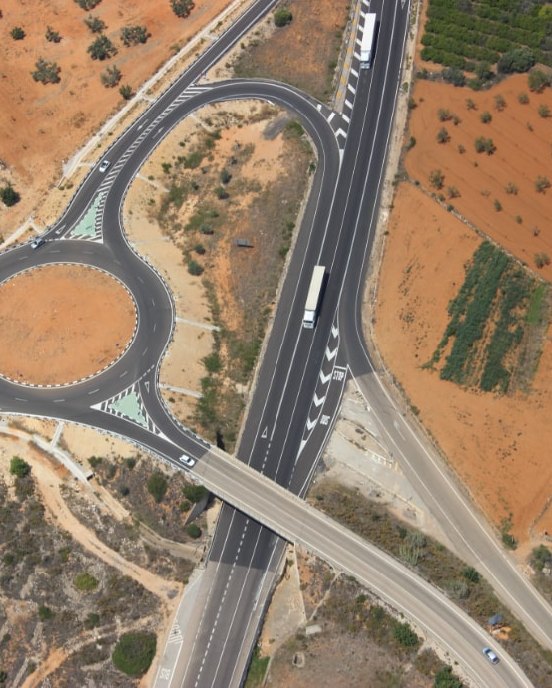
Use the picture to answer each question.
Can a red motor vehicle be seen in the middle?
No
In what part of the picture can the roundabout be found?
left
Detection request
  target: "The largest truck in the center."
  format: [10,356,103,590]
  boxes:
[301,269,329,327]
